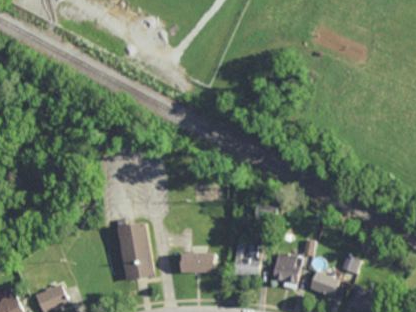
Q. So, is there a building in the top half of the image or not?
No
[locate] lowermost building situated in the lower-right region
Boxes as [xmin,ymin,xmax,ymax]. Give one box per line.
[310,272,341,297]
